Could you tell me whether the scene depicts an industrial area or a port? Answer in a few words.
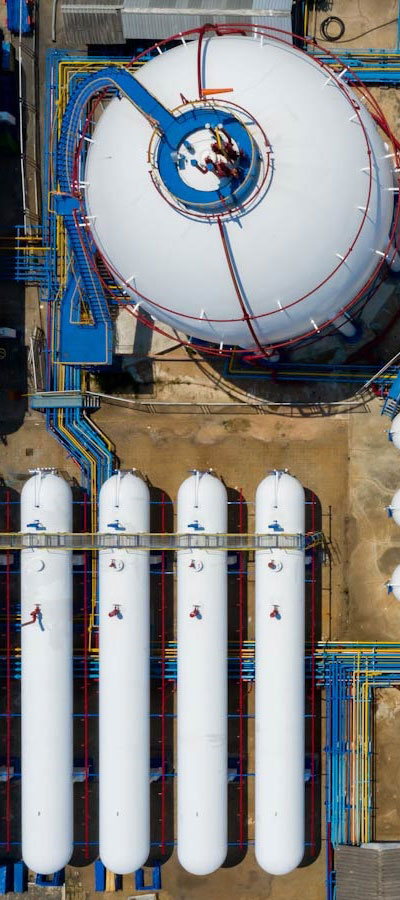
industrial area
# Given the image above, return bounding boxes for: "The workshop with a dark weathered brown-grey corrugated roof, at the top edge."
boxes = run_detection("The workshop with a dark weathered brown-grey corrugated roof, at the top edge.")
[47,0,125,43]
